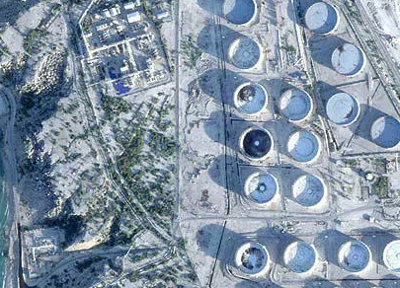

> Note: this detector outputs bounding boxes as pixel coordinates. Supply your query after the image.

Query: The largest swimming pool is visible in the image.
[111,79,129,95]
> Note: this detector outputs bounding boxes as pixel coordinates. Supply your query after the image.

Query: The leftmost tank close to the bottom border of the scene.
[236,242,272,278]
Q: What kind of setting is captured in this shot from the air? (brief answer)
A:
industrial area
